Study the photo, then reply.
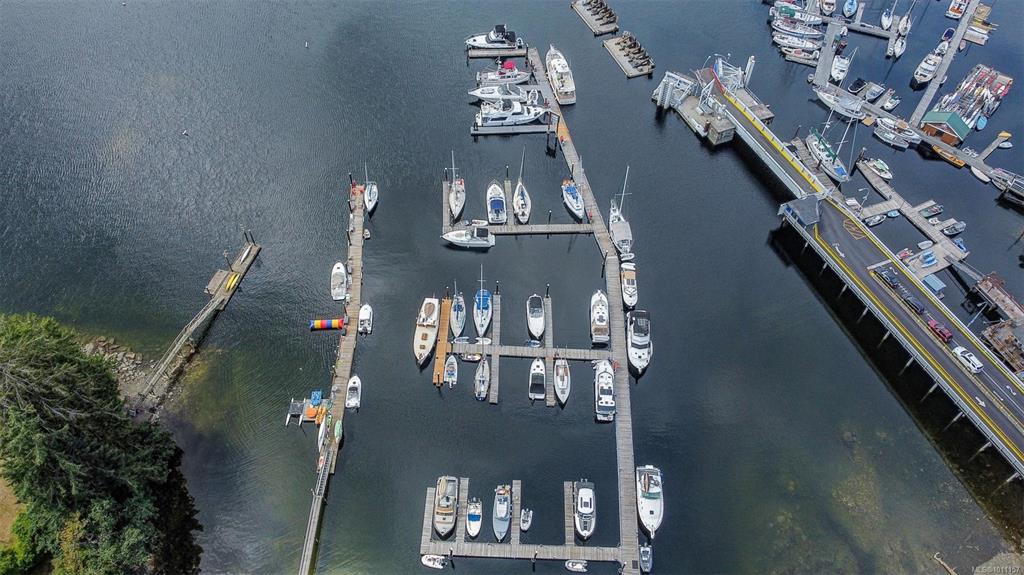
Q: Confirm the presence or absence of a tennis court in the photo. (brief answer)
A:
No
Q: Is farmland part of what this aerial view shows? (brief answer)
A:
No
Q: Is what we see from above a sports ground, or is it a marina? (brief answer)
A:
marina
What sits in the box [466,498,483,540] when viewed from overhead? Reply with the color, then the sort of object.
white boat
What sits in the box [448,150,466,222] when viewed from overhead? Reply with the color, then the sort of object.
white boat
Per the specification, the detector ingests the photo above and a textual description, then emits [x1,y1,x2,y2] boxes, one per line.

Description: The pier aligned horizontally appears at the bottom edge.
[421,543,621,562]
